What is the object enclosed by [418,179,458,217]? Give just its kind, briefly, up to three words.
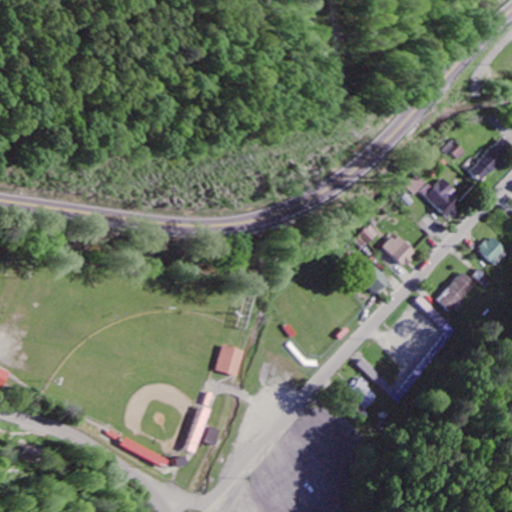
house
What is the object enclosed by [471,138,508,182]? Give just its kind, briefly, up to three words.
house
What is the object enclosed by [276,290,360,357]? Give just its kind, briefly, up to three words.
sports field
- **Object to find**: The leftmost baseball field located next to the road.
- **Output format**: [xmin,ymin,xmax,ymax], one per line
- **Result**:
[44,309,222,455]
